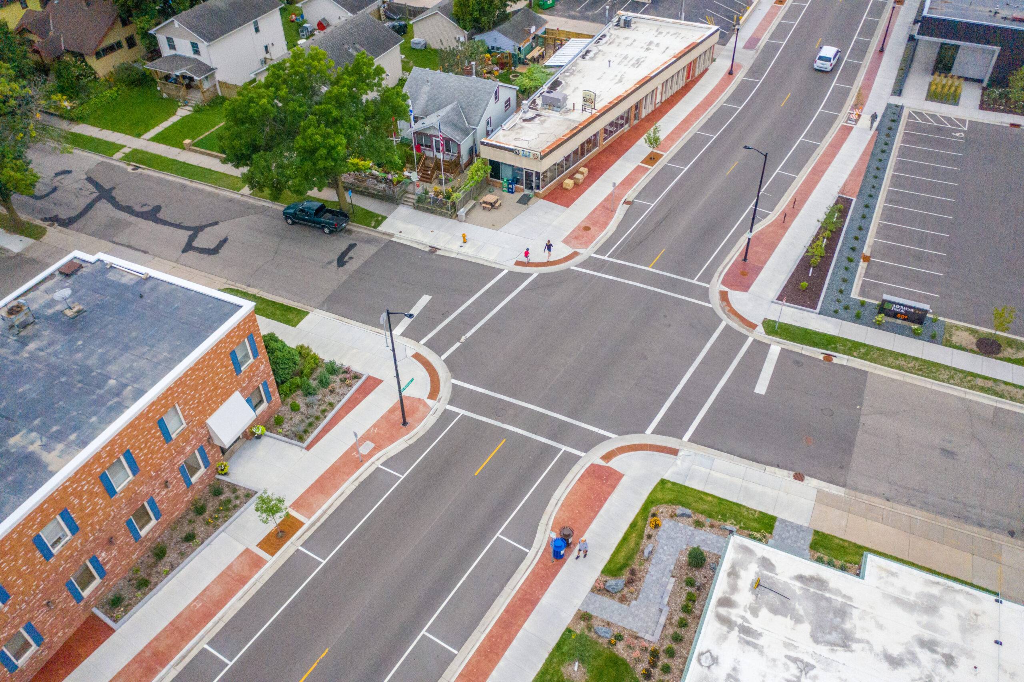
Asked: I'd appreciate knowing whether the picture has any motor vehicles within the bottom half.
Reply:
No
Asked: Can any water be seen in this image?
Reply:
No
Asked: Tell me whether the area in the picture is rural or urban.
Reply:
urban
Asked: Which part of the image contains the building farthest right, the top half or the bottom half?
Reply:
top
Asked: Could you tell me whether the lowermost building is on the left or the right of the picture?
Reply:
right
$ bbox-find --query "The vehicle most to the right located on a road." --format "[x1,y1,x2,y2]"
[812,46,842,71]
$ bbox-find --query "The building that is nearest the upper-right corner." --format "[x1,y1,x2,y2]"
[891,0,1024,85]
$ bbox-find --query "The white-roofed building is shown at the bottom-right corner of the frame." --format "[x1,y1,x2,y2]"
[683,537,1024,682]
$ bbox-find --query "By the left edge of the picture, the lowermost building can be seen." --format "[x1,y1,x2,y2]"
[0,250,279,682]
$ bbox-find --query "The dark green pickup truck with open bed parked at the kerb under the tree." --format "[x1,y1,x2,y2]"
[278,199,352,235]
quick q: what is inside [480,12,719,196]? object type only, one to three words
building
